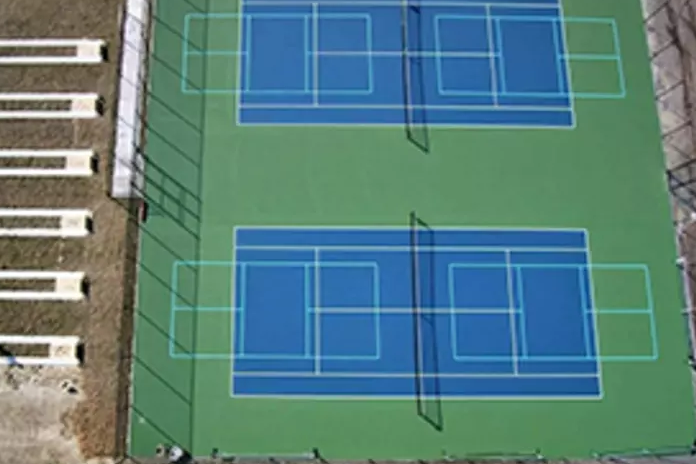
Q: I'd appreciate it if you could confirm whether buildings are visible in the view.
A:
No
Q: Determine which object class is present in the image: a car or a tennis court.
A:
tennis court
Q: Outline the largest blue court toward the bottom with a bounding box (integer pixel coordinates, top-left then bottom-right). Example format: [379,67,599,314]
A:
[232,227,604,398]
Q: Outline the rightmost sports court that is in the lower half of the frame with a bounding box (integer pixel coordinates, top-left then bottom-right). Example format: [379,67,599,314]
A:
[448,264,660,359]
